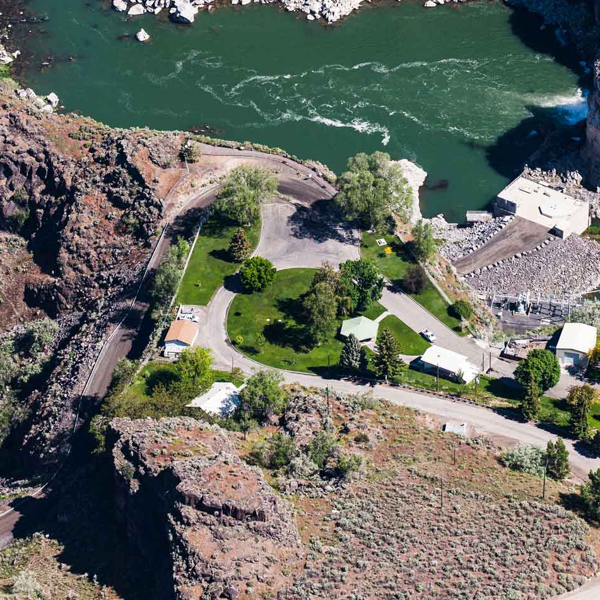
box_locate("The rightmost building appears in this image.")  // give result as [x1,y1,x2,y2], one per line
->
[556,321,593,366]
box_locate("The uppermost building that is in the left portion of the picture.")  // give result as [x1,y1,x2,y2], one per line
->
[163,322,200,359]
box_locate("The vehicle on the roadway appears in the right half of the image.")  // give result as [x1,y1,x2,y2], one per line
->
[418,329,439,342]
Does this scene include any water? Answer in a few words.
Yes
